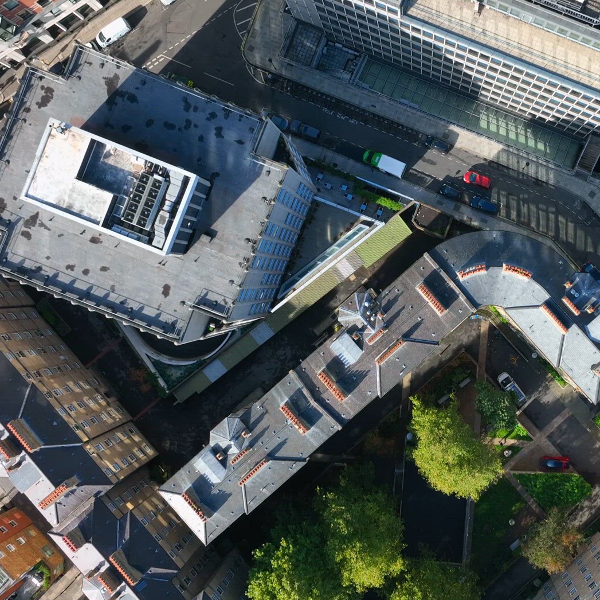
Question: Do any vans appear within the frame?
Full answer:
Yes, I can see a van in this picture.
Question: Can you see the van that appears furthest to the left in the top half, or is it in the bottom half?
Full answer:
The top half of the photo is where the van that appears furthest to the left is.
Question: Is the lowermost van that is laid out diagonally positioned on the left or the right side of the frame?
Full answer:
The lowermost van that is laid out diagonally sits on the right side.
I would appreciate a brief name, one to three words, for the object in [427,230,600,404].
building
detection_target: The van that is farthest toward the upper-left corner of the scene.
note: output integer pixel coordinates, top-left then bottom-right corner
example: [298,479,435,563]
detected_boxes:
[95,15,132,51]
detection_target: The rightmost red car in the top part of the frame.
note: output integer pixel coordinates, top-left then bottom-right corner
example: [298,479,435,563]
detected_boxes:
[460,169,495,190]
